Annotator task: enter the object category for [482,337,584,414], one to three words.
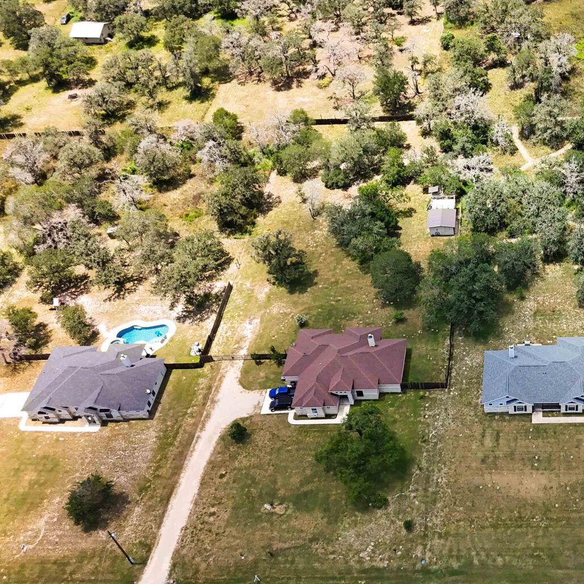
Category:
house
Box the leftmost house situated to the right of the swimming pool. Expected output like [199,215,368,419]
[282,327,406,417]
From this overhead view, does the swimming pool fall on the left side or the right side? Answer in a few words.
left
